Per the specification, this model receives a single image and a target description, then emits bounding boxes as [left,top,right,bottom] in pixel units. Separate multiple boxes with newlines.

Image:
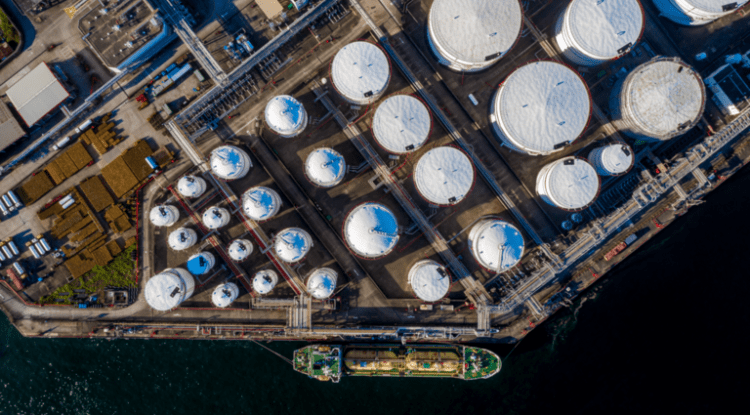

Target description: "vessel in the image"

[293,342,502,382]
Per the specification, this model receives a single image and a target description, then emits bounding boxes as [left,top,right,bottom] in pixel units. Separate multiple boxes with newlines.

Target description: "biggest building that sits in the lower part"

[103,290,129,304]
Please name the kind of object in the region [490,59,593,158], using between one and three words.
storage tank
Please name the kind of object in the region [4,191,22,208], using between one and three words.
vehicle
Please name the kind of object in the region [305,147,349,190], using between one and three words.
storage tank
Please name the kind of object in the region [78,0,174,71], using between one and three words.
building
